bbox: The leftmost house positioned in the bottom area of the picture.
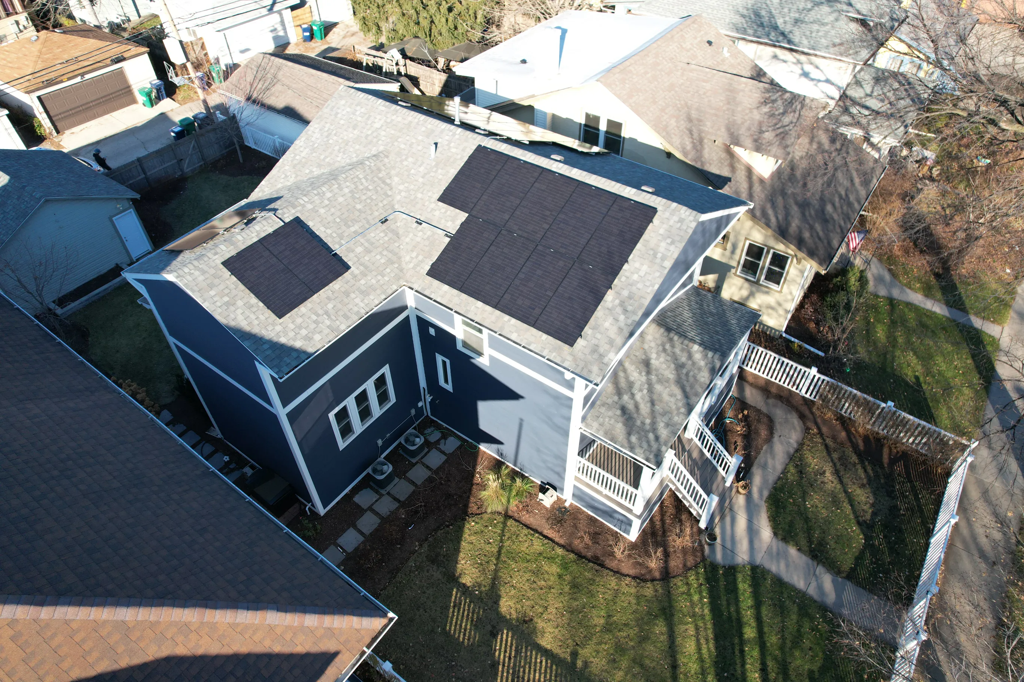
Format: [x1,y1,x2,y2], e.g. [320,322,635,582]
[0,294,397,682]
